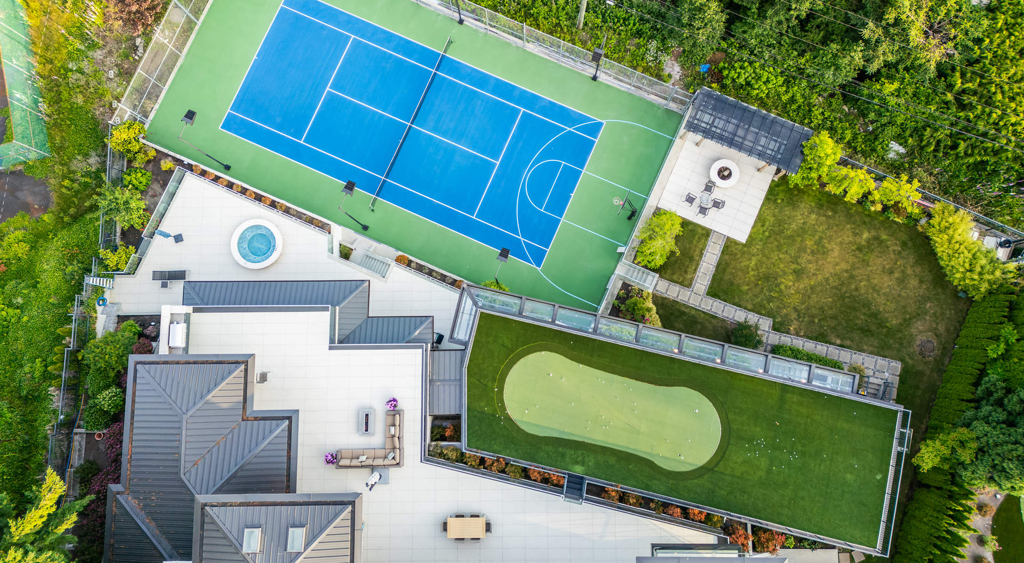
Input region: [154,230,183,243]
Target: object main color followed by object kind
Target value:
blue umbrella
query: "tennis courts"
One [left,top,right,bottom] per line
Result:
[146,0,684,332]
